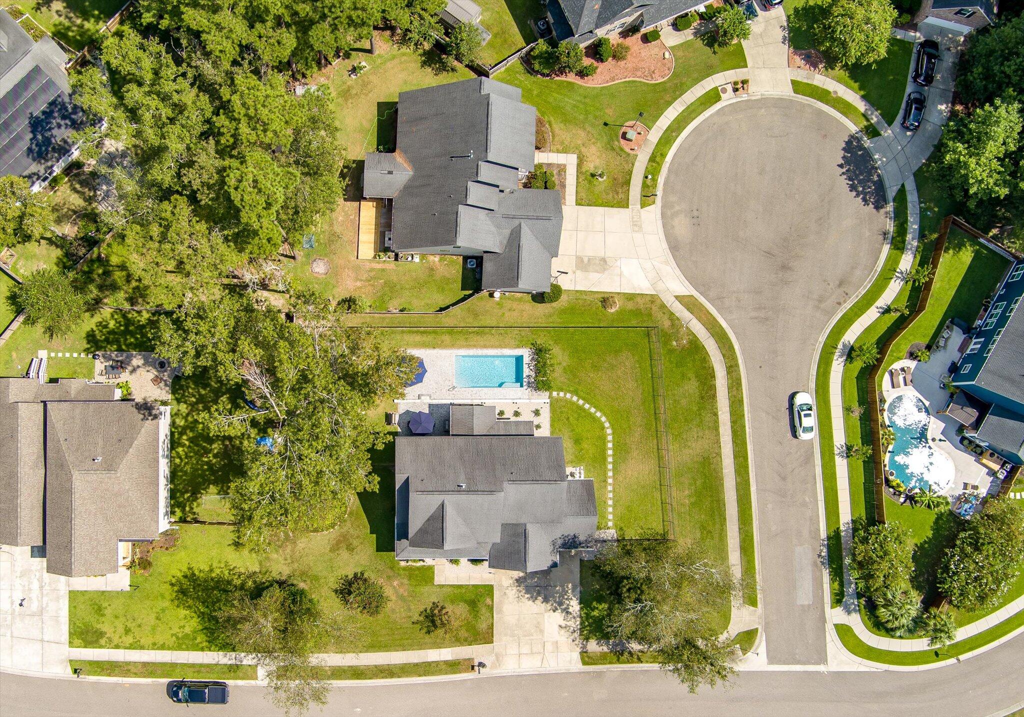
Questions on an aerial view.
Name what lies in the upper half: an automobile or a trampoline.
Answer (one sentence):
It is an automobile that can be seen in the upper half.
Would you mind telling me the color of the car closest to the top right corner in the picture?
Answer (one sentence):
In this view, the car closest to the top right corner is black.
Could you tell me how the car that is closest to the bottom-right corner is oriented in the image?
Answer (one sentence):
In this picture, the car that is closest to the bottom-right corner lies up and down.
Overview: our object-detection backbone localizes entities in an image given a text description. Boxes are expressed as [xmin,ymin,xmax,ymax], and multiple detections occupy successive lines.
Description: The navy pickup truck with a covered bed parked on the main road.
[171,678,232,705]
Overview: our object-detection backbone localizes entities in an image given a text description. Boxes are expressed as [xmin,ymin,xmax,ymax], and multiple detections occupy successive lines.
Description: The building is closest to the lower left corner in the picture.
[0,378,171,577]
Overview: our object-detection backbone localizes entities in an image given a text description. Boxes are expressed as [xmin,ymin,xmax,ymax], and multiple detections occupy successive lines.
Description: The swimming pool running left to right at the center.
[453,354,525,389]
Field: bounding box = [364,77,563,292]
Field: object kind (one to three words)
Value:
house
